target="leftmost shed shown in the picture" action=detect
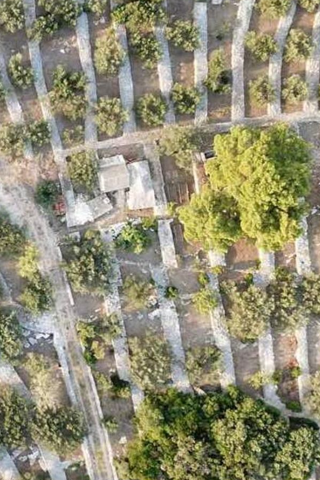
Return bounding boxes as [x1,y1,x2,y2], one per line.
[86,194,112,218]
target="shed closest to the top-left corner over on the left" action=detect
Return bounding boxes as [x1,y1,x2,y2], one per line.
[96,155,129,192]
